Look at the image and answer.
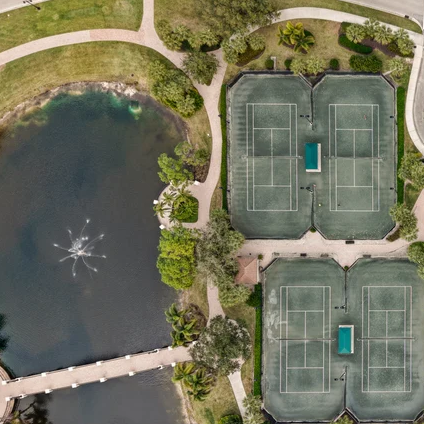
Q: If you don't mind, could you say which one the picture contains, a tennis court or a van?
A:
tennis court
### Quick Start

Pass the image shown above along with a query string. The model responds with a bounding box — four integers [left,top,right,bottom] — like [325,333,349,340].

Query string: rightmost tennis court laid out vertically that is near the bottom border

[346,259,424,421]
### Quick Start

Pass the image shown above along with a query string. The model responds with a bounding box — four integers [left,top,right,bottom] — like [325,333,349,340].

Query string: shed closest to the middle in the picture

[236,256,261,284]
